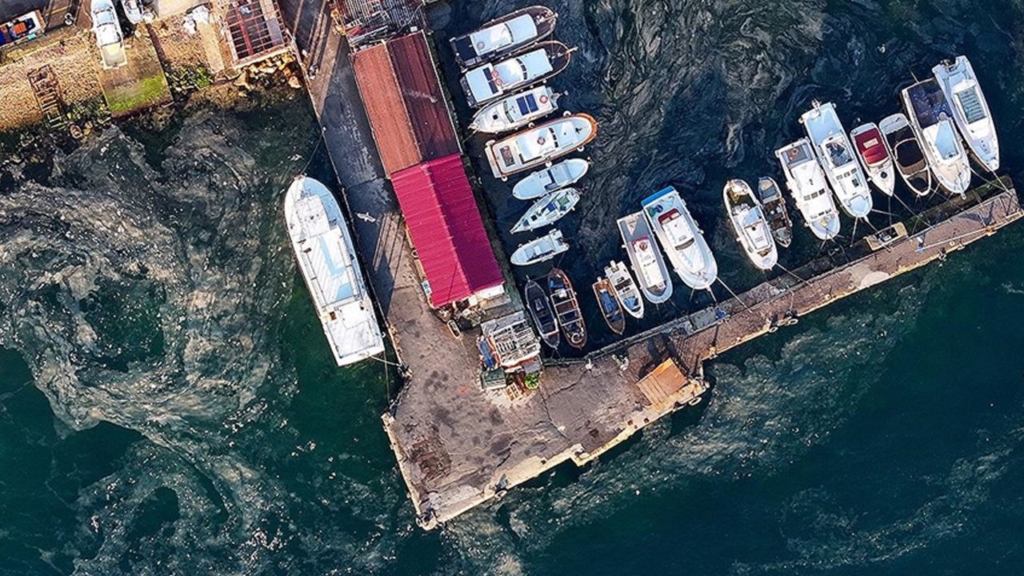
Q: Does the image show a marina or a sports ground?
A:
marina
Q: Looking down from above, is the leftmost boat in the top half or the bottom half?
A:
top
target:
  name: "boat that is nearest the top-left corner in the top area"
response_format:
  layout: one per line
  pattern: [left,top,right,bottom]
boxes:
[0,10,49,48]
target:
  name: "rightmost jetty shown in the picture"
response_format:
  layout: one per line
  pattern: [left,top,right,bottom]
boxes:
[298,0,1024,530]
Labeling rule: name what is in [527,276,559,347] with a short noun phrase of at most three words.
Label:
boat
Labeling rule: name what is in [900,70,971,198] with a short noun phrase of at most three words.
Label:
boat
